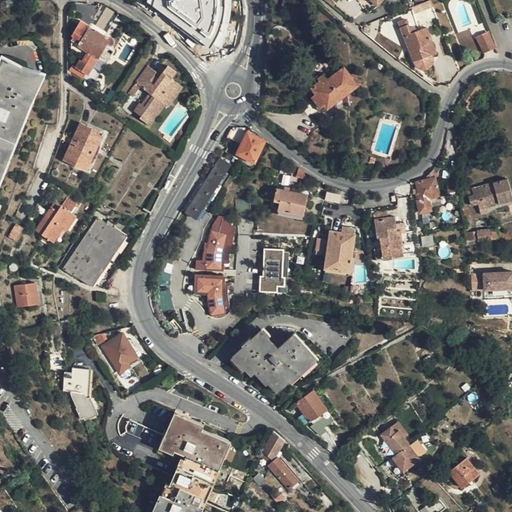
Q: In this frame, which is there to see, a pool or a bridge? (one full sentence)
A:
Visible in the photo is a pool.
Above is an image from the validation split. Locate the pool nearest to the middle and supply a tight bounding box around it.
[351,264,368,284]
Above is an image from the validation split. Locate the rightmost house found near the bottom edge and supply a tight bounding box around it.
[451,458,480,490]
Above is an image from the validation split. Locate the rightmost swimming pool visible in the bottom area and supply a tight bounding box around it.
[484,298,512,316]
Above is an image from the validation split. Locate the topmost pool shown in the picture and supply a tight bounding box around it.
[450,0,486,34]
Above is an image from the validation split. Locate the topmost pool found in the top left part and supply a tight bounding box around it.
[113,34,138,66]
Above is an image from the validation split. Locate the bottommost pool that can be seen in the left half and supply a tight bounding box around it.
[158,102,186,143]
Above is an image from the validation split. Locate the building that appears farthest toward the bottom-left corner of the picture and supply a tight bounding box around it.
[63,368,99,420]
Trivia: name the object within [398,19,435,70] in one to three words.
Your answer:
house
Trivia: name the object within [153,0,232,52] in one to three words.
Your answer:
building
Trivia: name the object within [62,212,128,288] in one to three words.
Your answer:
building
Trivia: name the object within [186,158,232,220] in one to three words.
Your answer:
house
